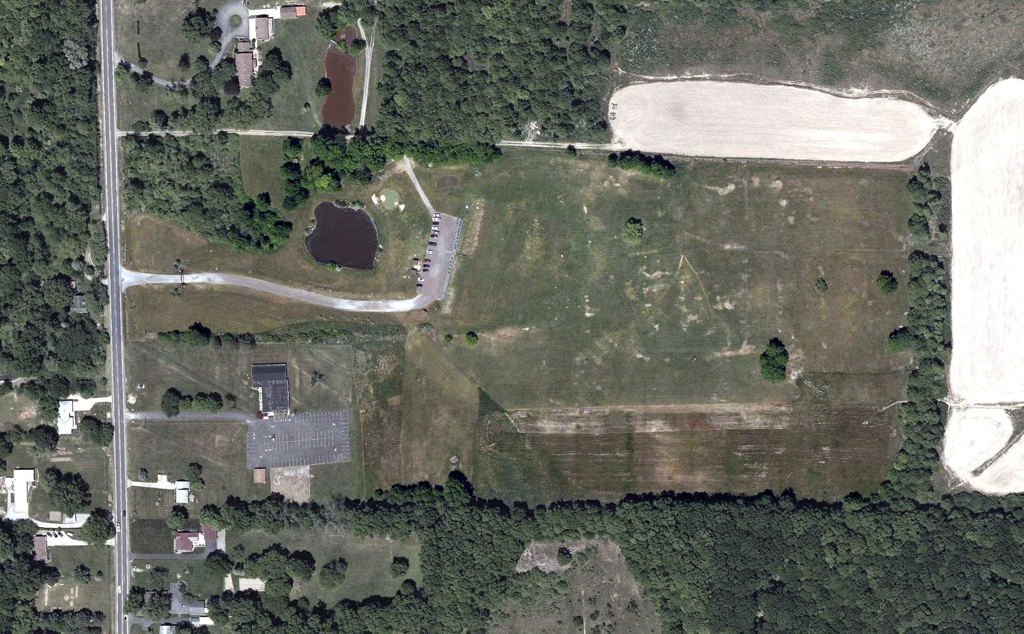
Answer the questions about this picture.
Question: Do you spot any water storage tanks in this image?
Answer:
No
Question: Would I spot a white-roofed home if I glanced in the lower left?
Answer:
Yes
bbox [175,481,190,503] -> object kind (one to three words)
house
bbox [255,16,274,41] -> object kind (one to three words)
building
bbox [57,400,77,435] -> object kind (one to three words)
house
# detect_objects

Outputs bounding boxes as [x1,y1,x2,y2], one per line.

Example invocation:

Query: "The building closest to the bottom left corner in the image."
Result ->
[33,535,47,562]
